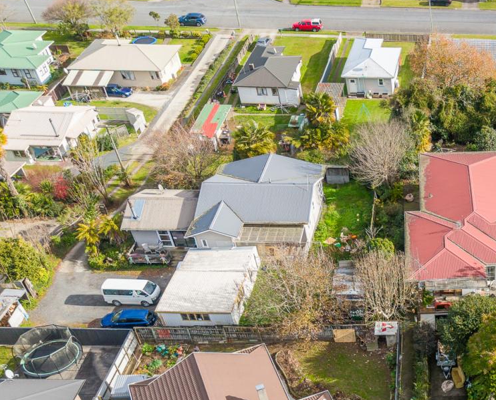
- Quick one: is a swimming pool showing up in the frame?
No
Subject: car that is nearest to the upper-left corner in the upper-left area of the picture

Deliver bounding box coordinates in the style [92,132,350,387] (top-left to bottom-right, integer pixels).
[100,84,136,100]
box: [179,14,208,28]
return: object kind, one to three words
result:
car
